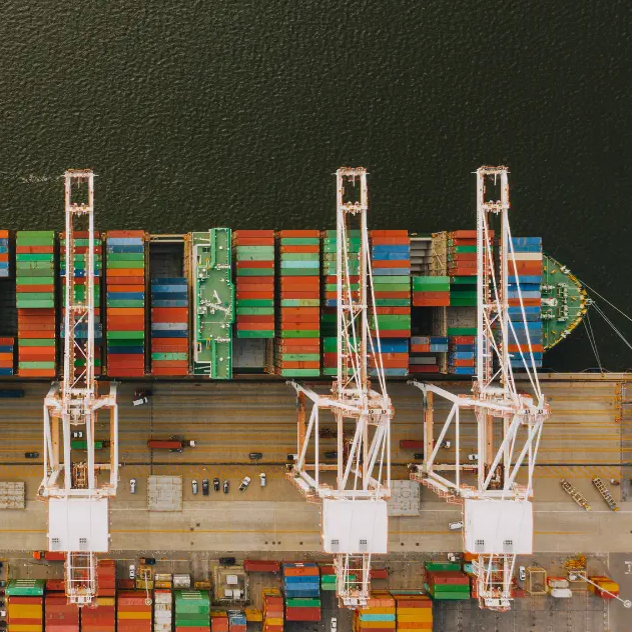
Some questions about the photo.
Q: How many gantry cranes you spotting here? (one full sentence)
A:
In total, there are 3 gantry cranes in the scene.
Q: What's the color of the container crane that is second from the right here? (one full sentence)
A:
The container crane that is second from the right looks white in the image.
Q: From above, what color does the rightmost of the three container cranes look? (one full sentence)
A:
The color of the rightmost of the three container cranes is white.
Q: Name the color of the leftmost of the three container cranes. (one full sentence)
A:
From above, the leftmost of the three container cranes appears white.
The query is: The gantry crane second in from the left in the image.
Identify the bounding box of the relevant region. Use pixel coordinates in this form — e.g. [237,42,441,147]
[283,167,398,608]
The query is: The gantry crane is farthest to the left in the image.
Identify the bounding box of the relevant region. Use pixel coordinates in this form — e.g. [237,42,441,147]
[40,170,124,608]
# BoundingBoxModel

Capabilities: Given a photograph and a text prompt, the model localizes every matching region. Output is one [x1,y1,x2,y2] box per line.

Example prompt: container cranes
[40,170,124,608]
[404,166,552,608]
[283,167,398,608]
